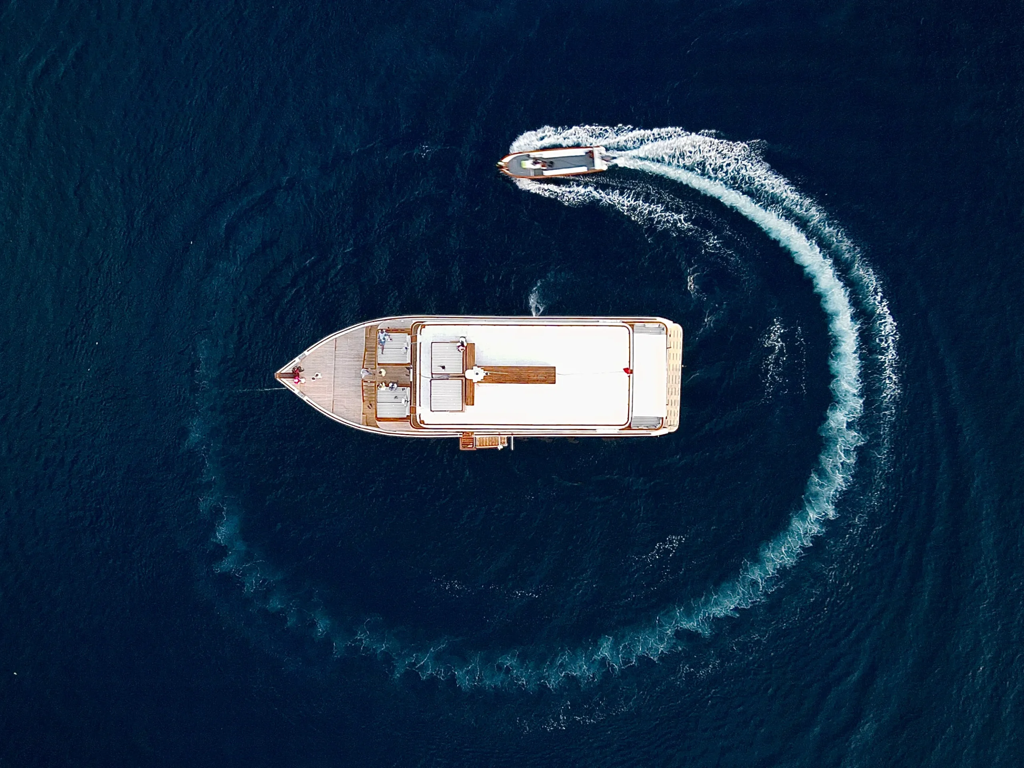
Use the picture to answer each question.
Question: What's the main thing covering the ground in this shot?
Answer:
water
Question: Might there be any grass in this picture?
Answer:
No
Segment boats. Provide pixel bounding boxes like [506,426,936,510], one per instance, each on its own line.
[275,316,683,450]
[497,146,615,179]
